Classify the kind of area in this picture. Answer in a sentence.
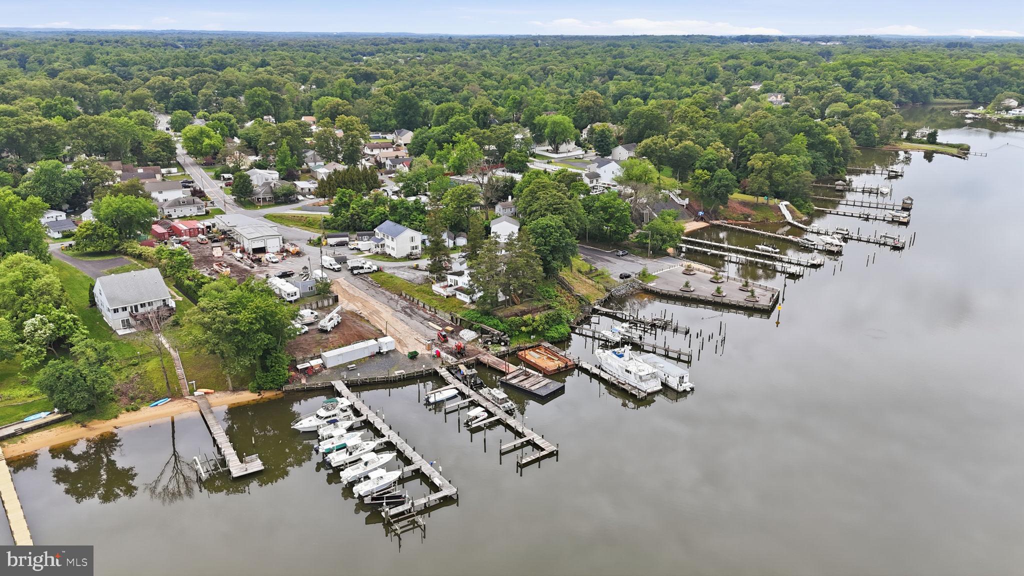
It's a port.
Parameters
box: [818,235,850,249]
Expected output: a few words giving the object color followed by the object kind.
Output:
white boat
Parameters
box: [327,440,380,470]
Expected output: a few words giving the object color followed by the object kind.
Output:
white boat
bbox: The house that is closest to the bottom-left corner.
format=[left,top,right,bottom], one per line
[100,268,178,333]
